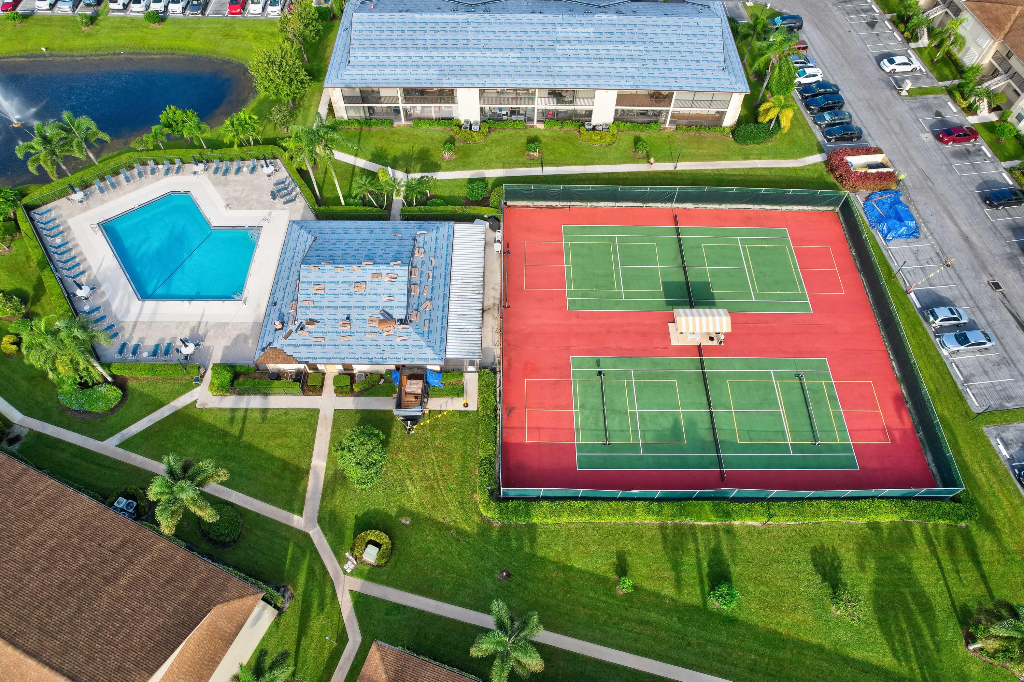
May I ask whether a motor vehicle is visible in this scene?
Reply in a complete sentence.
Yes, the photo shows a motor vehicle.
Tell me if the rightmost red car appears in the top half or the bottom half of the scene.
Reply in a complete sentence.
It is in the top half that the rightmost red car appears.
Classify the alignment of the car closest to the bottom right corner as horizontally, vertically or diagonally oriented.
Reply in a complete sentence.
The car closest to the bottom right corner is oriented horizontally.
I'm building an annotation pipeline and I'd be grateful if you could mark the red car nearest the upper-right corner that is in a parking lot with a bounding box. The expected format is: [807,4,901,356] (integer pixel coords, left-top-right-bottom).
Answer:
[938,125,982,145]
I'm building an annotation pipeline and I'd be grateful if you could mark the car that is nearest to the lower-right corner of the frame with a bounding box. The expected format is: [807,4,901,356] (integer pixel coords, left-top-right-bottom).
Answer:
[940,330,997,354]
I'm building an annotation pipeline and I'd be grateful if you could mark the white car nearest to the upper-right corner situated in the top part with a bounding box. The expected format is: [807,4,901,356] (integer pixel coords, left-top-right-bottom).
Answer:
[882,55,923,73]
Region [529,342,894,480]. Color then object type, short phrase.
green tennis court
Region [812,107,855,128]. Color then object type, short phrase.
blue car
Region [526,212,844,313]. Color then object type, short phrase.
green tennis court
